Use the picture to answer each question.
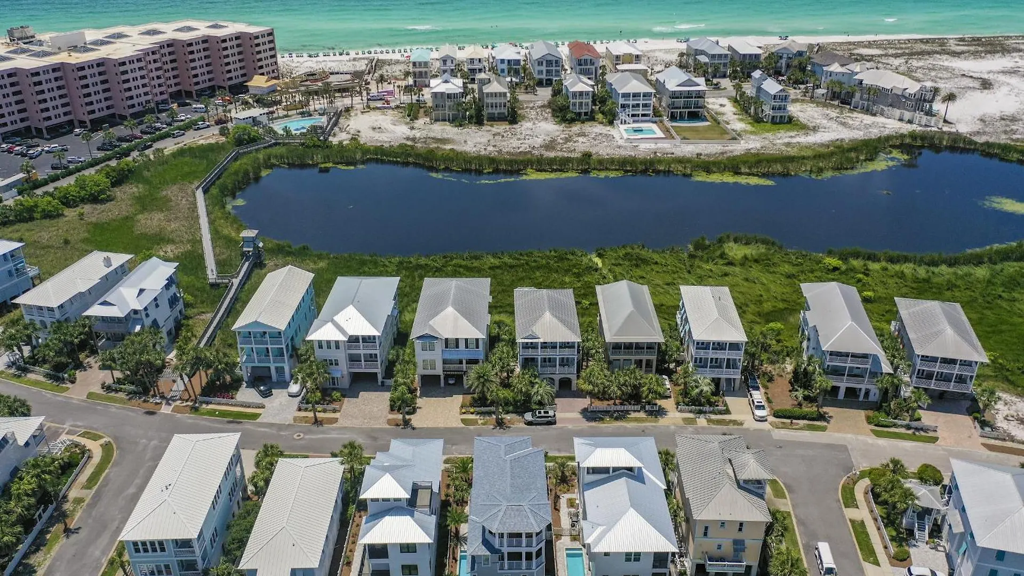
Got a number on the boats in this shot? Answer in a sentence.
The count of boats is 0.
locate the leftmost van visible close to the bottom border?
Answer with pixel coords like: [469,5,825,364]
[812,531,841,576]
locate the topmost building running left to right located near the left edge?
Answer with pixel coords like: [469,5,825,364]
[0,18,286,139]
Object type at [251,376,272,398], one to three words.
car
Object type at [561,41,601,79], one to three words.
house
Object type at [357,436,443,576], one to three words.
house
